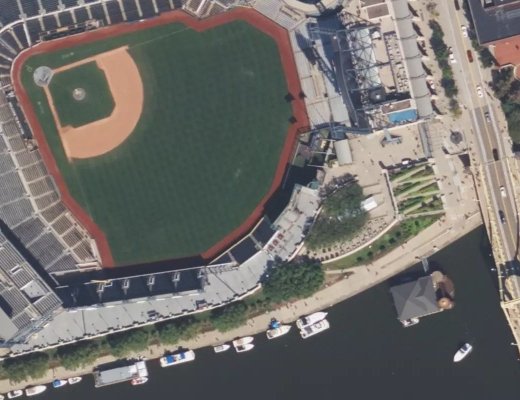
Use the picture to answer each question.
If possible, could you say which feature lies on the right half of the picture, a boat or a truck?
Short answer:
boat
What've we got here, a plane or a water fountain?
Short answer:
water fountain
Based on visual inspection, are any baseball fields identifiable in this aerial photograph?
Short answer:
Yes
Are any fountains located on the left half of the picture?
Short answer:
No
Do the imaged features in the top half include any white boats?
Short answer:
No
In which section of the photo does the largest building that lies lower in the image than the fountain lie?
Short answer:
bottom right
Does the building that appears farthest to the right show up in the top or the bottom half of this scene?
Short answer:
top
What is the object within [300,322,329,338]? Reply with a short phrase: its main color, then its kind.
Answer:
white boat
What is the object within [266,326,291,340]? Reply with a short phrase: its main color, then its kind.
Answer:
white boat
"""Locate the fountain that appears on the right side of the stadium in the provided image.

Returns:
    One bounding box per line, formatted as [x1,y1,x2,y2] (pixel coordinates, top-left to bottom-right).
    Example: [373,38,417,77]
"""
[442,123,471,152]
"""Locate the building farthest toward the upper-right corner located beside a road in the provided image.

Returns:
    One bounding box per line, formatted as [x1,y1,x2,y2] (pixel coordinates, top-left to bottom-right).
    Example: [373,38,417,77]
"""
[467,0,520,81]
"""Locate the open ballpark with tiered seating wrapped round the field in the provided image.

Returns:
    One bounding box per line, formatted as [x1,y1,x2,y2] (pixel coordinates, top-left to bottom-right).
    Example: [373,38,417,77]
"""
[0,0,372,360]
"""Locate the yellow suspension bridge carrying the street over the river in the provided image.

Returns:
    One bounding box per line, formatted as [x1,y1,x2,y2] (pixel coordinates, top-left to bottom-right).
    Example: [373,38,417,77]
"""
[475,159,520,352]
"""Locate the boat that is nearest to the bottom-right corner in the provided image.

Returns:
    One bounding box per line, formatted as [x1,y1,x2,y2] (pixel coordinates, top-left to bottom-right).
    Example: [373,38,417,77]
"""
[454,342,473,361]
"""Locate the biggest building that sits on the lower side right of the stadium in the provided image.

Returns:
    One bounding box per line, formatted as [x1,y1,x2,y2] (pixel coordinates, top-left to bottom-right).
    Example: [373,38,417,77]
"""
[390,271,454,319]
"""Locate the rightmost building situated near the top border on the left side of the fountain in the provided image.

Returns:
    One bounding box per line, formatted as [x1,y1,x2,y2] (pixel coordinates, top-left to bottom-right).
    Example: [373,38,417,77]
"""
[338,0,438,134]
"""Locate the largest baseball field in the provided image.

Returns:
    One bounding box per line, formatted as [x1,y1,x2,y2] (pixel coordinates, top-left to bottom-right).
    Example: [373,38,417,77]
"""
[11,6,310,280]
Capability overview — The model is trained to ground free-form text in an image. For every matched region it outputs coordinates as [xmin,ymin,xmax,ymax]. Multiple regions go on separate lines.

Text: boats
[300,322,329,338]
[266,326,291,340]
[401,318,416,327]
[296,314,327,328]
[159,349,196,367]
[52,379,67,387]
[212,344,231,353]
[25,386,47,396]
[236,344,255,353]
[6,390,23,399]
[68,377,82,385]
[454,342,473,361]
[234,337,254,346]
[130,377,148,385]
